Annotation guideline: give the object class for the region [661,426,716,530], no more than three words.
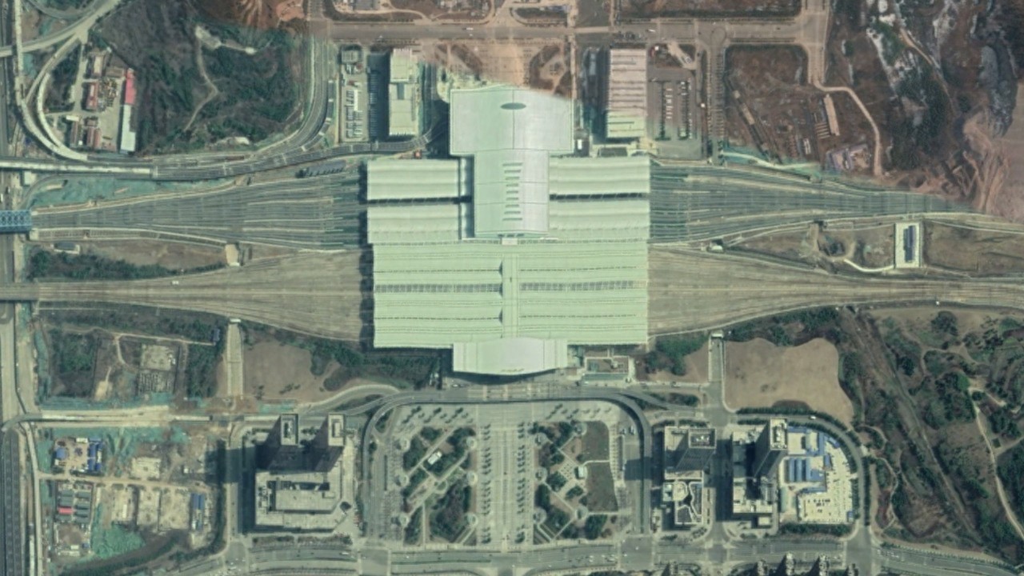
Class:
building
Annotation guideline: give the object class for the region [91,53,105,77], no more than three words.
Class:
building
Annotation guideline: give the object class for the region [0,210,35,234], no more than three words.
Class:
bridge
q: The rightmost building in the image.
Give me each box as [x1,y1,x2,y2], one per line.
[903,226,916,262]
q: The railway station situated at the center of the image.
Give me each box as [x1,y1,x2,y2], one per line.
[367,85,650,383]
